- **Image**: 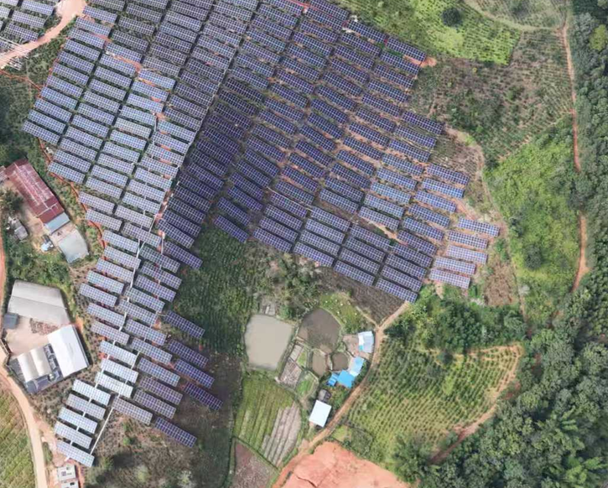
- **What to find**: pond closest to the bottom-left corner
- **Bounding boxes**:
[245,314,295,370]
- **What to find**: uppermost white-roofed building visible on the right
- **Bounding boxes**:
[356,332,374,353]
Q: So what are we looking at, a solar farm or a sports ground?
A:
solar farm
